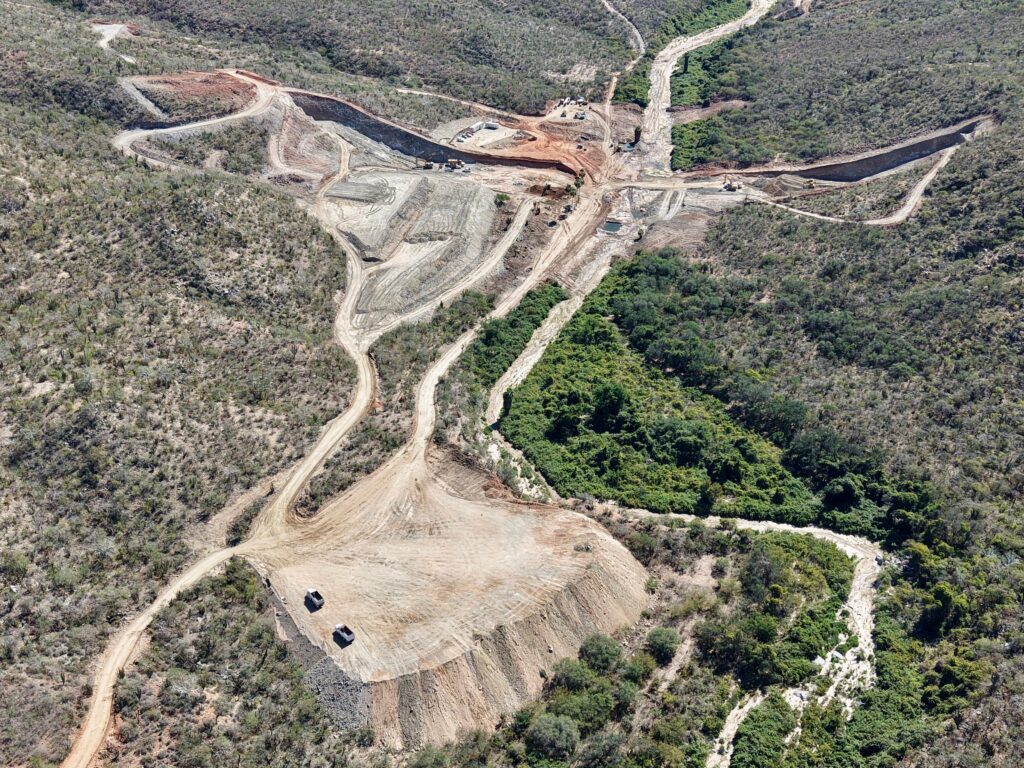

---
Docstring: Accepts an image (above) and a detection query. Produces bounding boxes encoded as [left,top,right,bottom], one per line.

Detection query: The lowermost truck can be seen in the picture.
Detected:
[331,624,352,647]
